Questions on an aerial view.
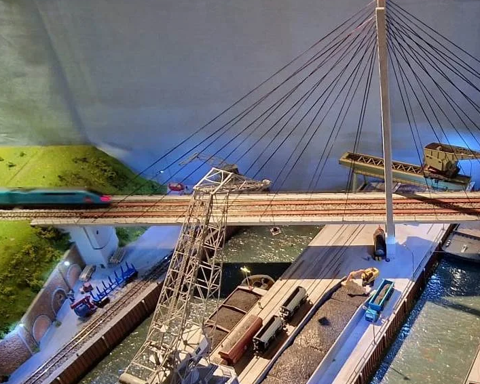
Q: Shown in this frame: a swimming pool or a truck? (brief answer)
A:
truck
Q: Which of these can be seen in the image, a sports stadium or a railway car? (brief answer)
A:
railway car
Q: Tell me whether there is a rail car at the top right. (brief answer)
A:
No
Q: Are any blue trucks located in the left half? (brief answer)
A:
Yes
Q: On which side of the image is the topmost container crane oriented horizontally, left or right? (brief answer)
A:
right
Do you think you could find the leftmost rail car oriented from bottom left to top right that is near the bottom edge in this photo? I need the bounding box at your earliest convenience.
[226,315,265,370]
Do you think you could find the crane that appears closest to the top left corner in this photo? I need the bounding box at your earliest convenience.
[184,143,237,193]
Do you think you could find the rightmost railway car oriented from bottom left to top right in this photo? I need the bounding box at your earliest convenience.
[281,286,308,320]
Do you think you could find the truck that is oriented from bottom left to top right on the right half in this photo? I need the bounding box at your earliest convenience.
[365,285,392,320]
